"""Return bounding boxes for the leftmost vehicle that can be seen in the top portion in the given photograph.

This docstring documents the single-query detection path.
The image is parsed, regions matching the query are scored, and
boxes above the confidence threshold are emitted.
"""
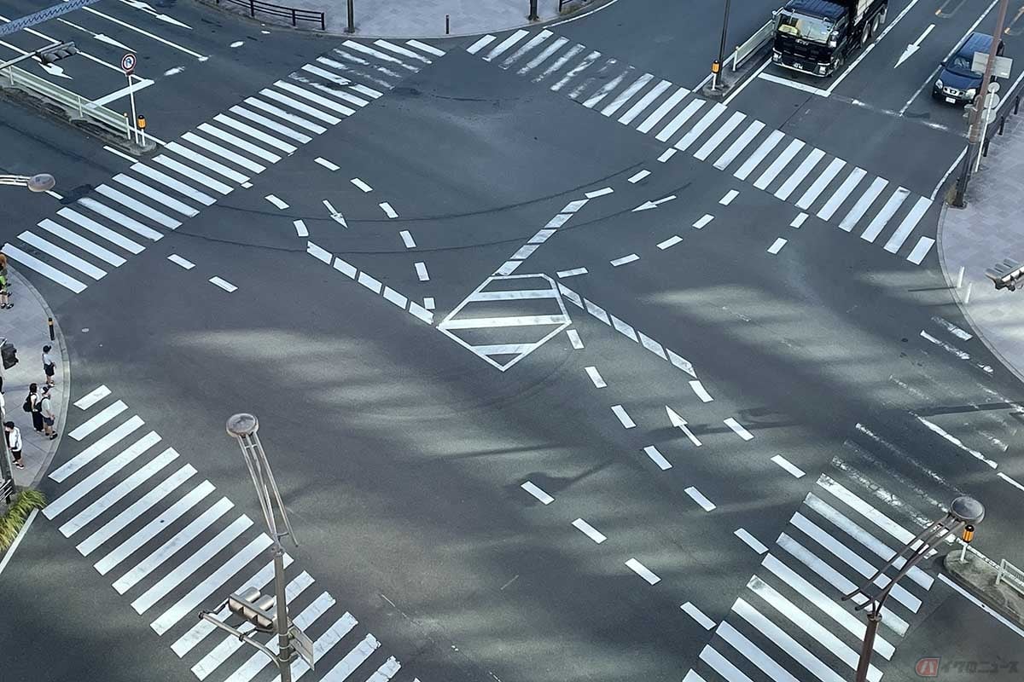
[766,0,888,75]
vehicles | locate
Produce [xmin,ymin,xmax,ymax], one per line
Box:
[766,0,888,75]
[932,33,1006,109]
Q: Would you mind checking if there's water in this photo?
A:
No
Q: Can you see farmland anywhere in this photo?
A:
No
